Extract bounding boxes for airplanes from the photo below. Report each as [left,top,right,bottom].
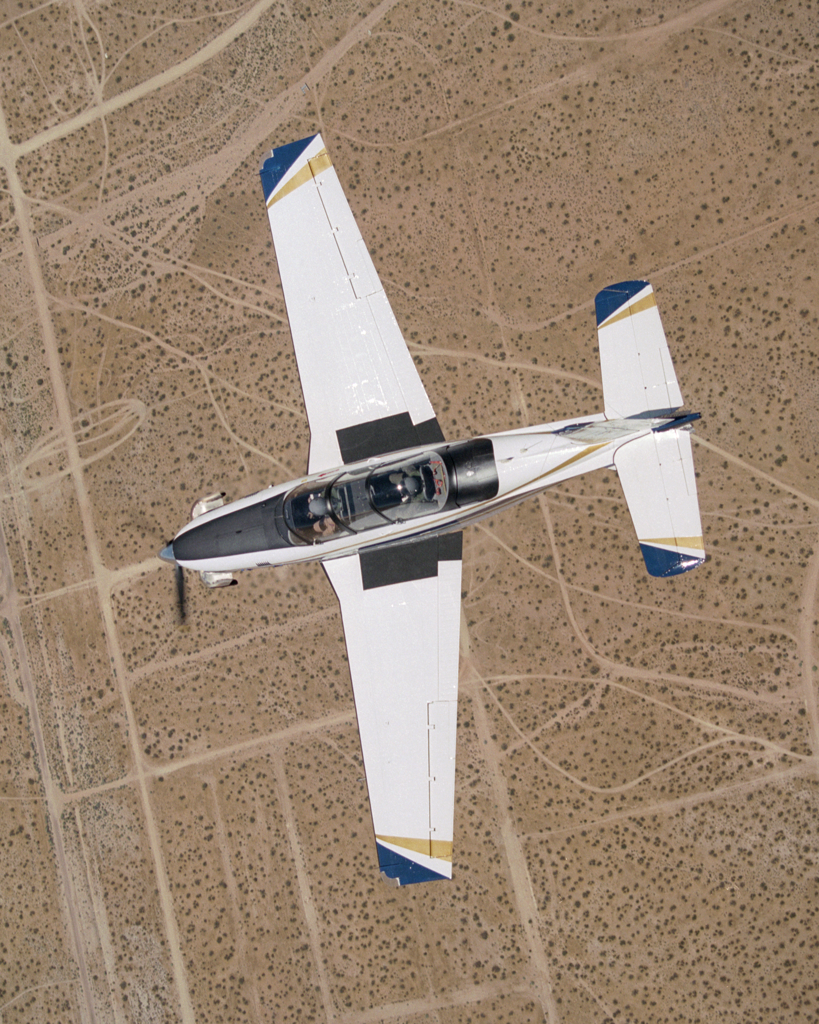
[145,133,705,886]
